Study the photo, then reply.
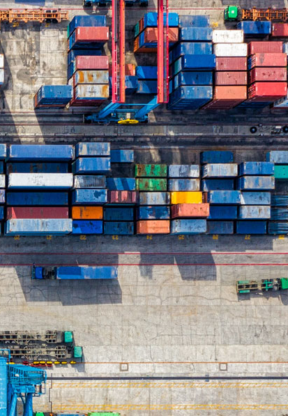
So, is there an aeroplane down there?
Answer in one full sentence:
No, there is no aeroplane in the image.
